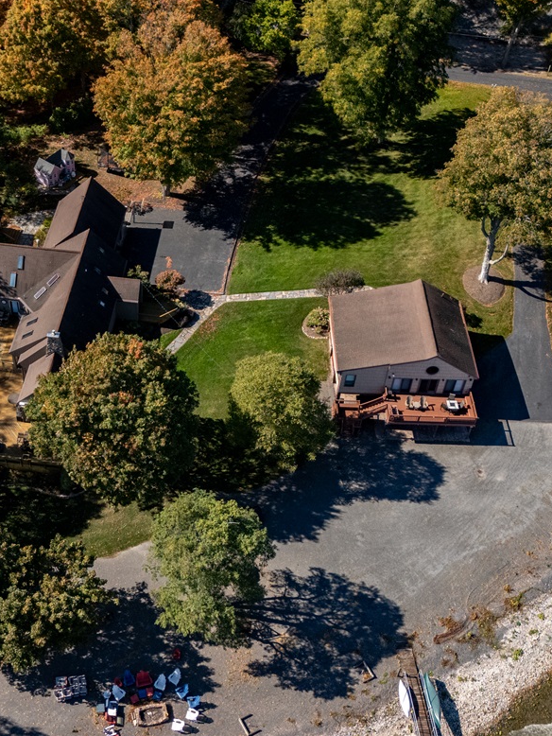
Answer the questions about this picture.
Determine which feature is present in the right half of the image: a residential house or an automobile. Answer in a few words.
residential house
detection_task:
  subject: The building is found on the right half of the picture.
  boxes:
[325,279,480,411]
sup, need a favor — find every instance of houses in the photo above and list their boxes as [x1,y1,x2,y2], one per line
[0,175,143,426]
[325,279,480,411]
